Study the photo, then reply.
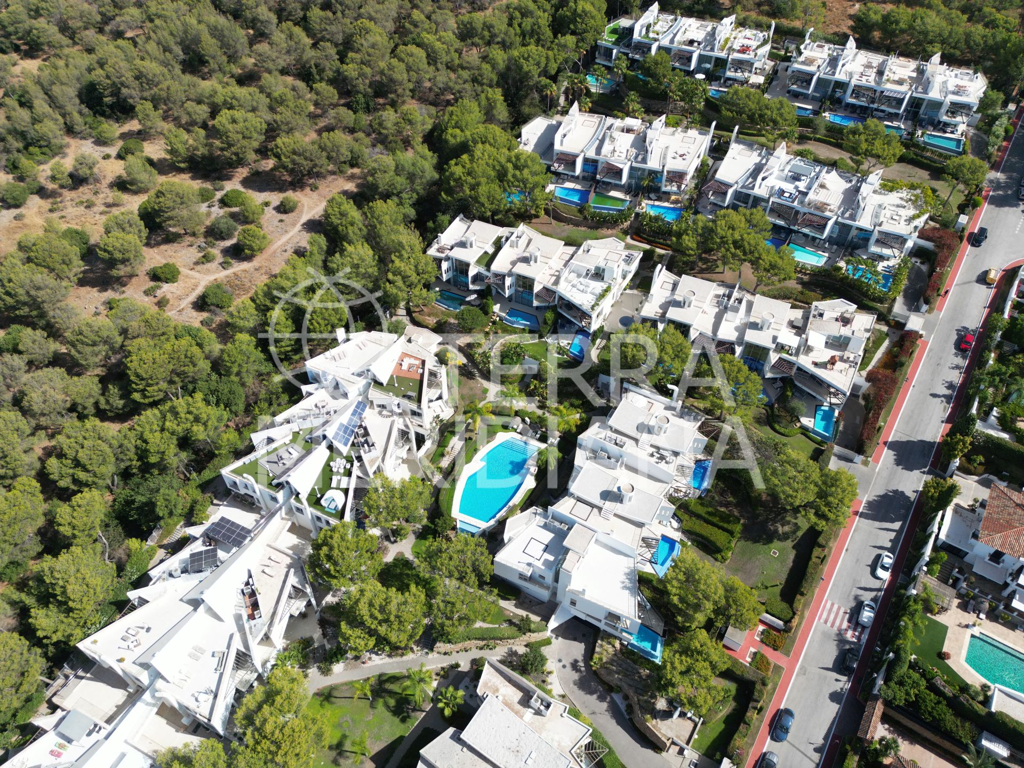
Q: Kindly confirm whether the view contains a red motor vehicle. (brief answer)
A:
Yes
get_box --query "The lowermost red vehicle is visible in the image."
[957,334,975,354]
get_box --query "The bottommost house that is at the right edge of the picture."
[930,481,1024,623]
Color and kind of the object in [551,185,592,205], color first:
blue swimming pool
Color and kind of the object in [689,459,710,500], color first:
blue swimming pool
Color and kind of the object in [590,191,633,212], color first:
green swimming pool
